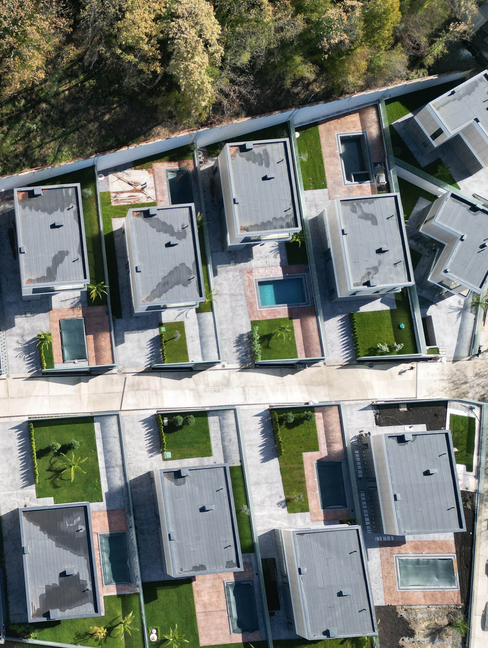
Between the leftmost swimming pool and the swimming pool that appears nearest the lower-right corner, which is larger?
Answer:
the swimming pool that appears nearest the lower-right corner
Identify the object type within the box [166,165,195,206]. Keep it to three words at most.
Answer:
swimming pool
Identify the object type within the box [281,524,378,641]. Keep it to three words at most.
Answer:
house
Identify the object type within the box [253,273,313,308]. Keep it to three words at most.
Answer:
swimming pool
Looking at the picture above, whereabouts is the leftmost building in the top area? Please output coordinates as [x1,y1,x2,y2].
[13,183,90,296]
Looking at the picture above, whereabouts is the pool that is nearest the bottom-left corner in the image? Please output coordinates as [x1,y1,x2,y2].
[99,532,133,587]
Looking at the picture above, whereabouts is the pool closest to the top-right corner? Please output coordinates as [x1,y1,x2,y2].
[335,131,375,187]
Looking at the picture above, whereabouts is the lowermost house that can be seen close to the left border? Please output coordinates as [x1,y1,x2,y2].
[19,502,101,623]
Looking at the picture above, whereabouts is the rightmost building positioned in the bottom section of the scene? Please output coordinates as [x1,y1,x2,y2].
[369,430,467,535]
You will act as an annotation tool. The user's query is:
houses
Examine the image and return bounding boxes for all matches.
[281,524,378,641]
[414,190,488,299]
[13,183,90,296]
[218,138,302,246]
[155,463,243,577]
[19,502,101,623]
[125,204,206,314]
[411,70,488,169]
[323,193,415,298]
[369,430,467,535]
